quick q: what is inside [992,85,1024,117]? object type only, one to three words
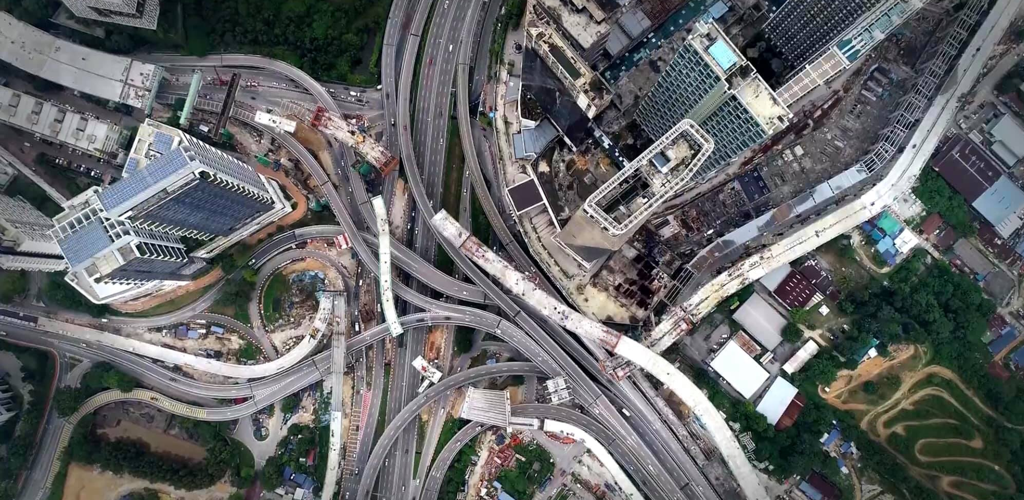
house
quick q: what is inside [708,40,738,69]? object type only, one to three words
swimming pool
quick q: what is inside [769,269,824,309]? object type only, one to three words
shed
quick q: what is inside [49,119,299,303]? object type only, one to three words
building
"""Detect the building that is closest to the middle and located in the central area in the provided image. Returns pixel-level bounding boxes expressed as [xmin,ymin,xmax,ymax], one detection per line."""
[507,178,545,216]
